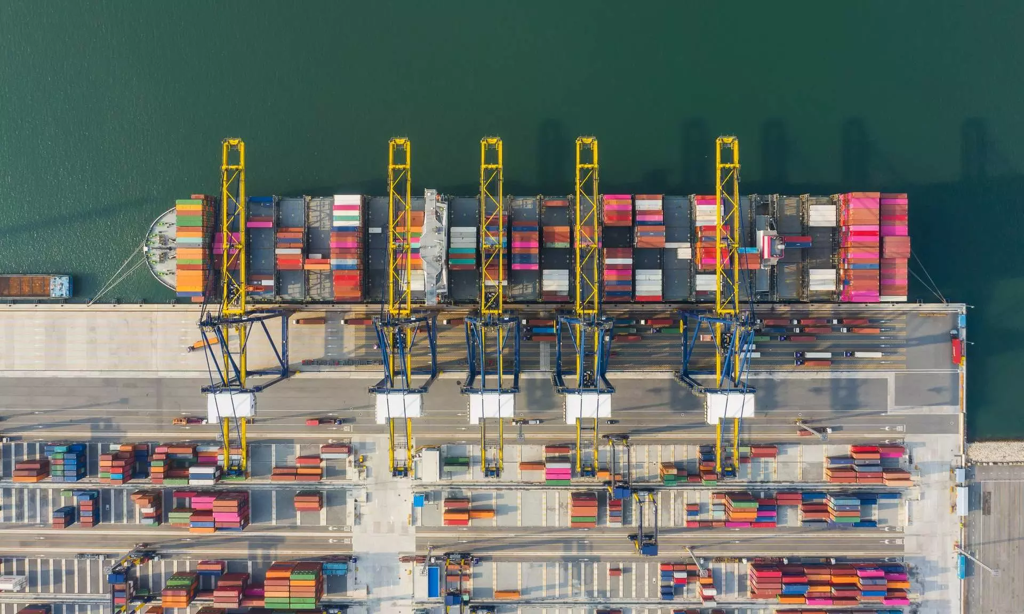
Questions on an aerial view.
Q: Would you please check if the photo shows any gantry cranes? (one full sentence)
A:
Yes, a gantry crane appears in the view.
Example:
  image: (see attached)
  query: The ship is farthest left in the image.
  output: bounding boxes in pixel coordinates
[0,275,76,297]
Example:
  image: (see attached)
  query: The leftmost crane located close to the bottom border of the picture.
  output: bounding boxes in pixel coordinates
[109,554,151,614]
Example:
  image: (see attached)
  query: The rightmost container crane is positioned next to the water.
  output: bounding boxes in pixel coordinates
[660,135,766,474]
